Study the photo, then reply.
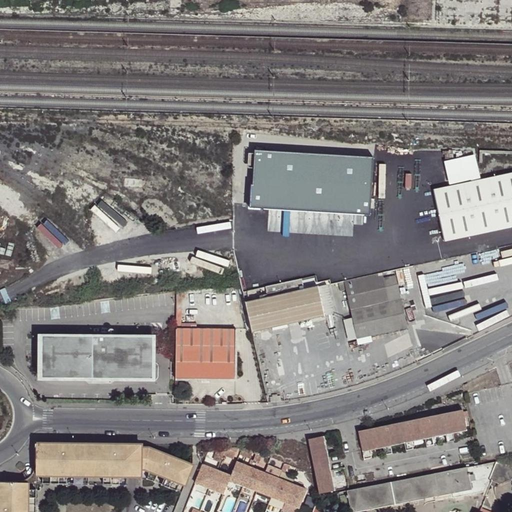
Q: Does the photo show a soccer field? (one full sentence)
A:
No, the photo shows no soccer field.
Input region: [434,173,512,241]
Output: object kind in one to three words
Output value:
building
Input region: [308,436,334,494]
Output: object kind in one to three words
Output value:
building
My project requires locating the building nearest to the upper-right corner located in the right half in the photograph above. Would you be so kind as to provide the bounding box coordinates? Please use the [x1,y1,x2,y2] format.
[444,154,481,184]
